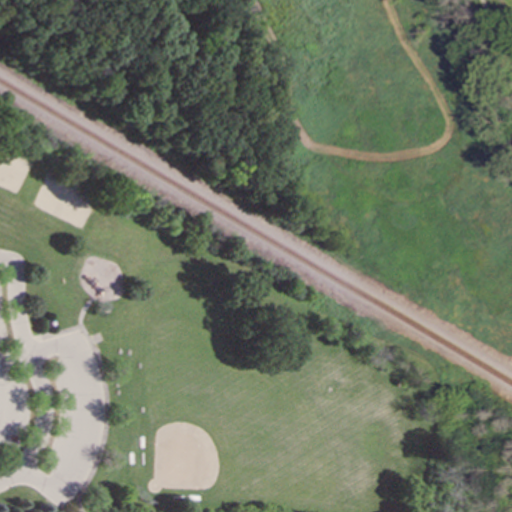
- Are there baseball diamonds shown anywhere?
Yes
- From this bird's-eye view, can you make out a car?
No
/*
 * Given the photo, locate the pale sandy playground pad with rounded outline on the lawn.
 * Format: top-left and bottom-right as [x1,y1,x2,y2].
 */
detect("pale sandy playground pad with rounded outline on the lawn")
[81,256,122,302]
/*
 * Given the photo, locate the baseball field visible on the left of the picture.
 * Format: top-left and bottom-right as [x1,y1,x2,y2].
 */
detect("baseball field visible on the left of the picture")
[148,421,220,493]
